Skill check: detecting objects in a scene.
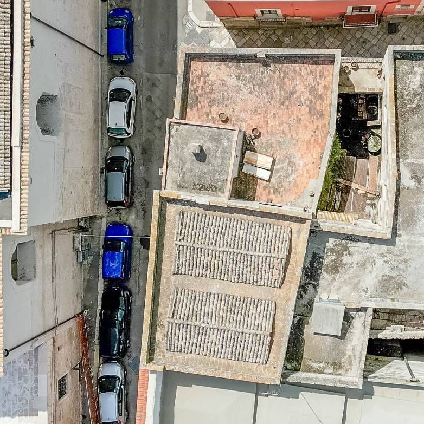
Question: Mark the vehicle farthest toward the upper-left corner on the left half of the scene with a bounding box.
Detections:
[103,7,135,65]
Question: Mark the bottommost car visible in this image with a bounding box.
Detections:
[97,360,128,424]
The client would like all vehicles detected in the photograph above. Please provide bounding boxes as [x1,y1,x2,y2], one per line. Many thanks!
[101,145,135,209]
[95,286,131,360]
[102,76,136,139]
[98,222,131,282]
[103,7,135,65]
[97,360,128,424]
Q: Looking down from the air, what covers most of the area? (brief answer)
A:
buildings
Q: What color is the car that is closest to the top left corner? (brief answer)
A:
blue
